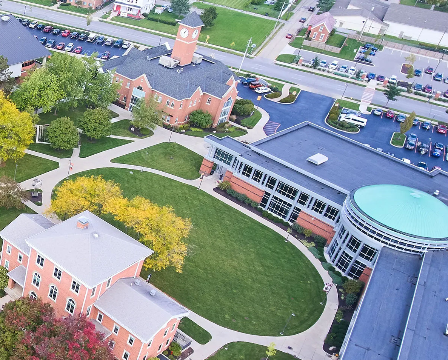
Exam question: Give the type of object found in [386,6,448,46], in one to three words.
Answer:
building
